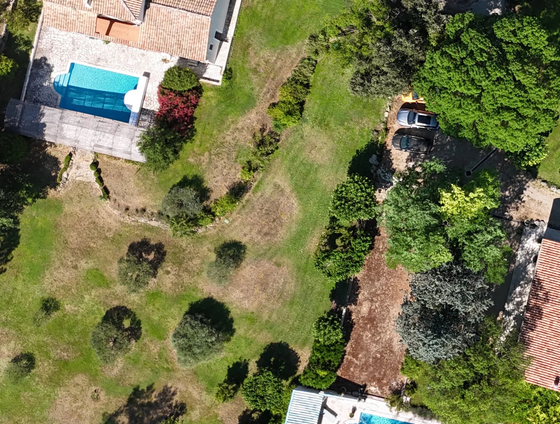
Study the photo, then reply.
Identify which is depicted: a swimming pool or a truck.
swimming pool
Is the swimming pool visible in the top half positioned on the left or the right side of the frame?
left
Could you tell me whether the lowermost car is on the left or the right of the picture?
right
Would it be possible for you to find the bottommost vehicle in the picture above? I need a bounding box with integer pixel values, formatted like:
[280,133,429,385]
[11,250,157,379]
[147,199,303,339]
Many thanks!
[391,133,435,155]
